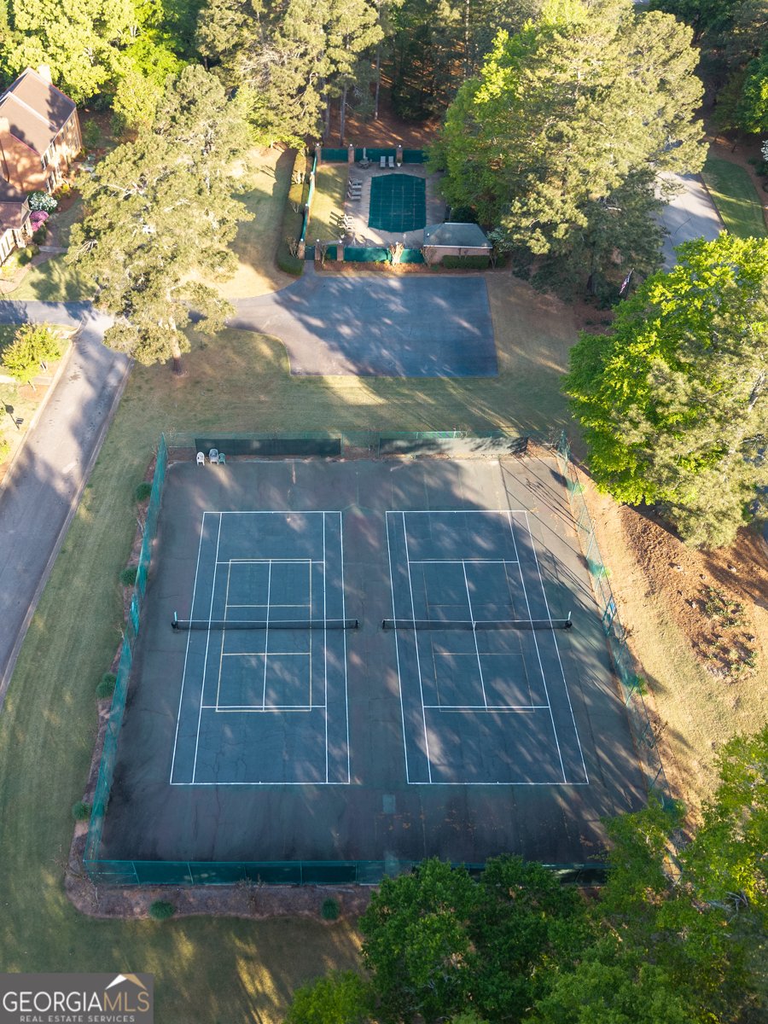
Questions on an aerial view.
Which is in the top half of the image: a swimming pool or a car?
swimming pool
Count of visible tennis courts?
two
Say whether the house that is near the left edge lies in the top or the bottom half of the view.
top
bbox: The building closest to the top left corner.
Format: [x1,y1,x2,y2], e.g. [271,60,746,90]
[0,56,82,198]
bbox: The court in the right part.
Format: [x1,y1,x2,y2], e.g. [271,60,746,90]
[387,511,588,783]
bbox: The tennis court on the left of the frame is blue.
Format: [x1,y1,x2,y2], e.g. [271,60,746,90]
[170,511,350,783]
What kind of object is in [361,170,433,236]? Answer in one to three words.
swimming pool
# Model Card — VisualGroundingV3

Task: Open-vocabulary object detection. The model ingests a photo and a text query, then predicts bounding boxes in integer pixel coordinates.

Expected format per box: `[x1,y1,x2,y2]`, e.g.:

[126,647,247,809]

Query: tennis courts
[170,511,350,783]
[387,511,588,783]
